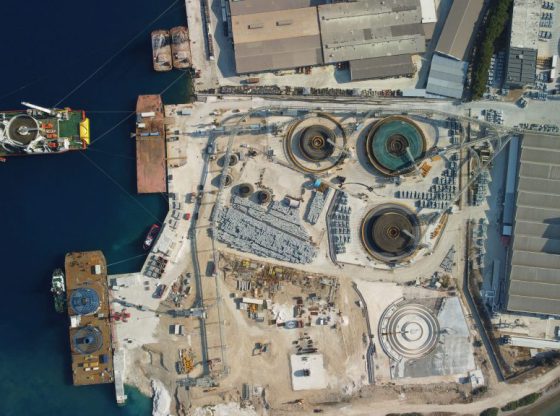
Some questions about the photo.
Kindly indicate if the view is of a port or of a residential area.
port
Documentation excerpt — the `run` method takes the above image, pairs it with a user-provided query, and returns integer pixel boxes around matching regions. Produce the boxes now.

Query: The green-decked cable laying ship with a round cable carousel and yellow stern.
[0,99,90,154]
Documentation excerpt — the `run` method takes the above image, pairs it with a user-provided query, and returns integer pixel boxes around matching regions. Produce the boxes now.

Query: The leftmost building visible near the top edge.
[229,0,324,77]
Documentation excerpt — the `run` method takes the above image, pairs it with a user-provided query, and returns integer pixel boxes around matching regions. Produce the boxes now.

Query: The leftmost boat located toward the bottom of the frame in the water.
[51,269,66,313]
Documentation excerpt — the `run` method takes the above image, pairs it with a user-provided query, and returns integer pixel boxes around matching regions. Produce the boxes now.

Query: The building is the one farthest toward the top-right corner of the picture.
[505,0,540,51]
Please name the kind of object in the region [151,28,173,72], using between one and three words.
ship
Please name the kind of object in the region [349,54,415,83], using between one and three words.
building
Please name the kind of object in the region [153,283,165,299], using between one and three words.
vehicle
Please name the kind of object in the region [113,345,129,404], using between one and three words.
pier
